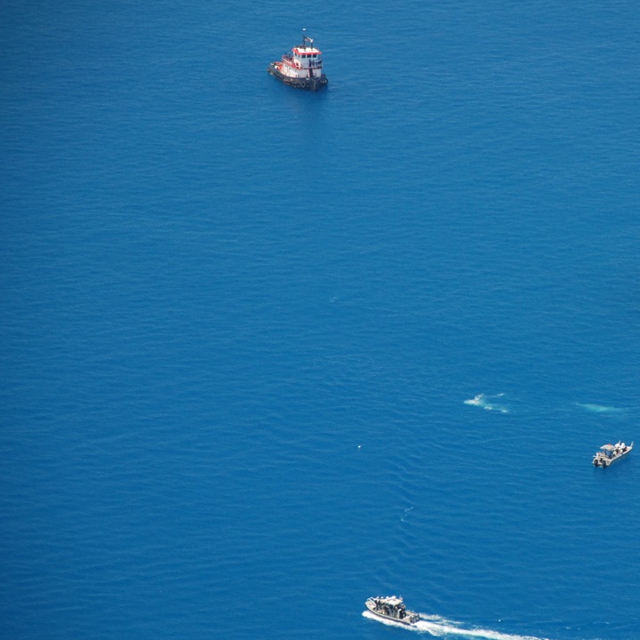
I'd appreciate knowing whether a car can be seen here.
No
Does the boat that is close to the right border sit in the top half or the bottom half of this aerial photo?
bottom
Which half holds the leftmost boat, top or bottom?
top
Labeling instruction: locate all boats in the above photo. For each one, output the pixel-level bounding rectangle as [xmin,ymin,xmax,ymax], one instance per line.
[363,594,420,623]
[271,37,328,89]
[592,440,632,468]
